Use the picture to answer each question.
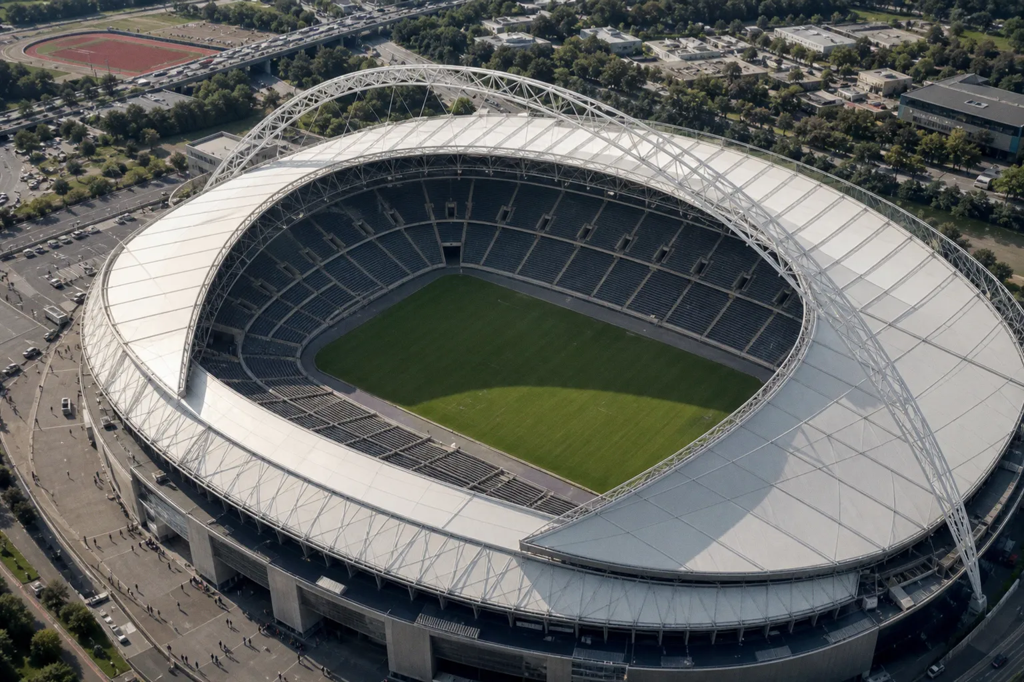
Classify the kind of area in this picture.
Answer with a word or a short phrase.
sports ground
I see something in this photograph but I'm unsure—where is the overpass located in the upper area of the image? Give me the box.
[0,0,517,143]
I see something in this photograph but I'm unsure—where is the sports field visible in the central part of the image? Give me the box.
[308,271,760,498]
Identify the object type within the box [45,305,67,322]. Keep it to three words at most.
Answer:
vehicle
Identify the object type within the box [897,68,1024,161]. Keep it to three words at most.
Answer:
building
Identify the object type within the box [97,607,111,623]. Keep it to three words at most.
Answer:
car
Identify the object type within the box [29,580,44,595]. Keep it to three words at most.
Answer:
car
